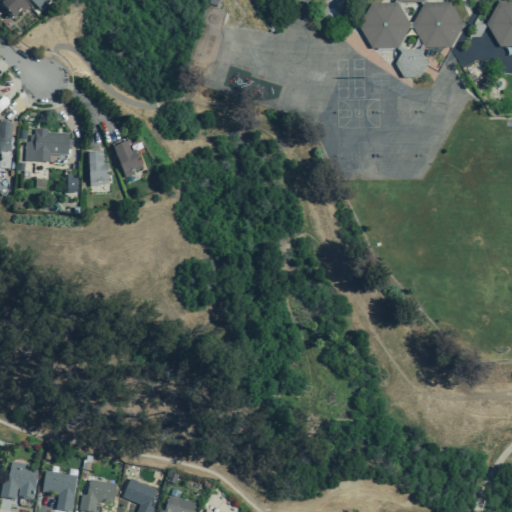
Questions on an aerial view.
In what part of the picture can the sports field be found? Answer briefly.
right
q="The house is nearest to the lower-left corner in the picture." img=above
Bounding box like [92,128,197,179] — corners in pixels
[0,463,38,500]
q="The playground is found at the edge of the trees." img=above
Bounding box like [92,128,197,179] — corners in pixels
[205,18,475,180]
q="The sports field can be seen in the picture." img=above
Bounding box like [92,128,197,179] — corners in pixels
[347,102,512,359]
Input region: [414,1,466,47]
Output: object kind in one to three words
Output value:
building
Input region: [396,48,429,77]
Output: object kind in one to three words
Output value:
building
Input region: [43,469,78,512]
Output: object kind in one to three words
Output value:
house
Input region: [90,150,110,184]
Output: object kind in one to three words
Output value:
house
